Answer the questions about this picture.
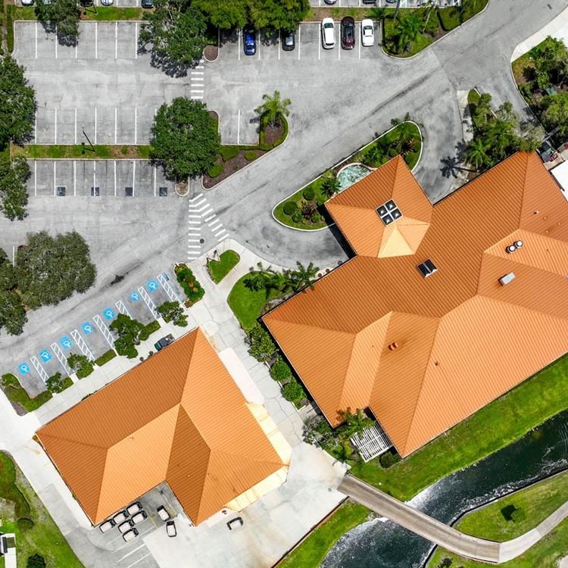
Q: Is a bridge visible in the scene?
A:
Yes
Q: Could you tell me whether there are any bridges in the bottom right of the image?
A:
Yes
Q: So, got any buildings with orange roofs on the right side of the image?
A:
Yes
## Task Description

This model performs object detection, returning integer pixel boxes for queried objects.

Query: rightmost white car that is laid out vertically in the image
[360,17,375,50]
